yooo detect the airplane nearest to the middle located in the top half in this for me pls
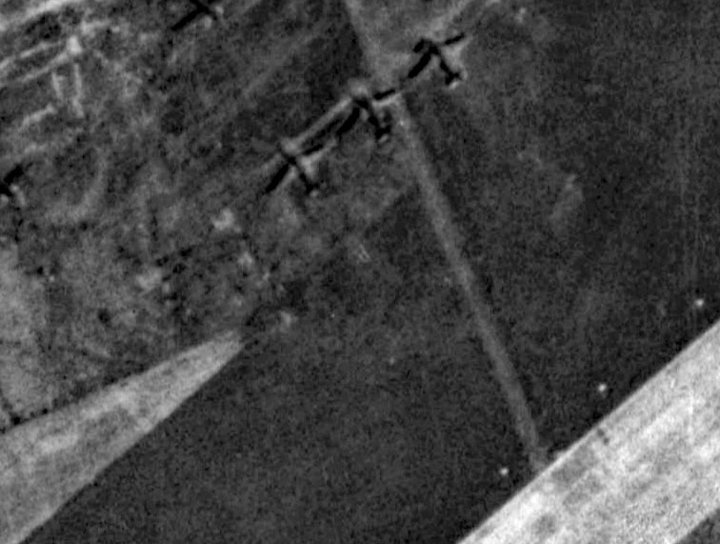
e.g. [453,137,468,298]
[274,146,334,198]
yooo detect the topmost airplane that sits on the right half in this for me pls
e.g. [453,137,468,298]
[415,36,475,86]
